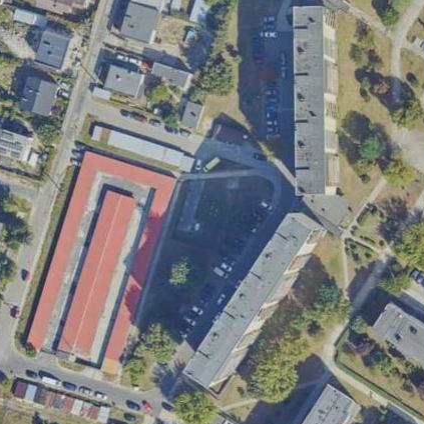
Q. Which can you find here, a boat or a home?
home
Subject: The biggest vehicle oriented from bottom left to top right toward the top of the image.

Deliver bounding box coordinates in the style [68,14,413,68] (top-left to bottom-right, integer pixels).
[201,155,220,172]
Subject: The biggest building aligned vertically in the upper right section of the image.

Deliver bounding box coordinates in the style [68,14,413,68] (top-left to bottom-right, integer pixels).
[293,6,335,194]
